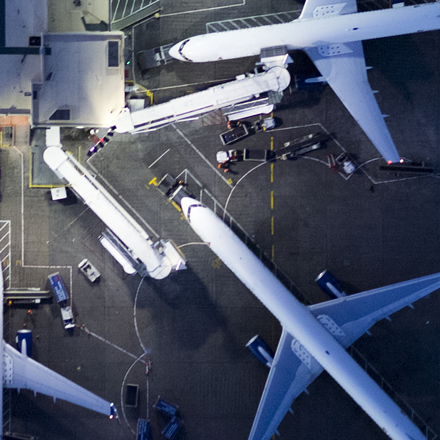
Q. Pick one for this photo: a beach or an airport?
airport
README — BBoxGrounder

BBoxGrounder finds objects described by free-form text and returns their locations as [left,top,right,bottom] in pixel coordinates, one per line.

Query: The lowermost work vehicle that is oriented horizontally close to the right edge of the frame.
[381,158,433,174]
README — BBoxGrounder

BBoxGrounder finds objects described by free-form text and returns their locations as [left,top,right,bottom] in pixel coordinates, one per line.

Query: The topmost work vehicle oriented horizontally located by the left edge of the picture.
[4,288,54,302]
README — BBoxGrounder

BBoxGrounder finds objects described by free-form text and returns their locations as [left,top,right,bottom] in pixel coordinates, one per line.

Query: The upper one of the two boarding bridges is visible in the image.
[116,54,297,139]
